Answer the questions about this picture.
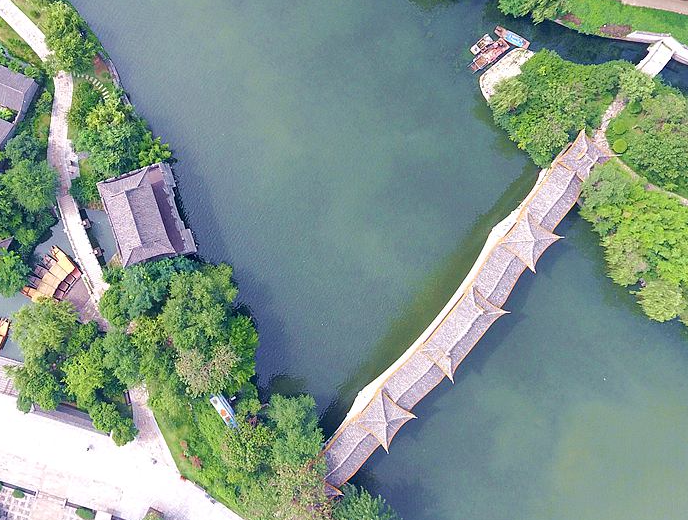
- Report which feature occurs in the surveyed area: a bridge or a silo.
bridge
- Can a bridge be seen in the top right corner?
Yes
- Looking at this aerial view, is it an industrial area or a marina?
marina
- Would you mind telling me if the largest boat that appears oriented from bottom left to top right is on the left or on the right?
right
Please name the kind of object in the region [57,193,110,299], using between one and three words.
bridge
